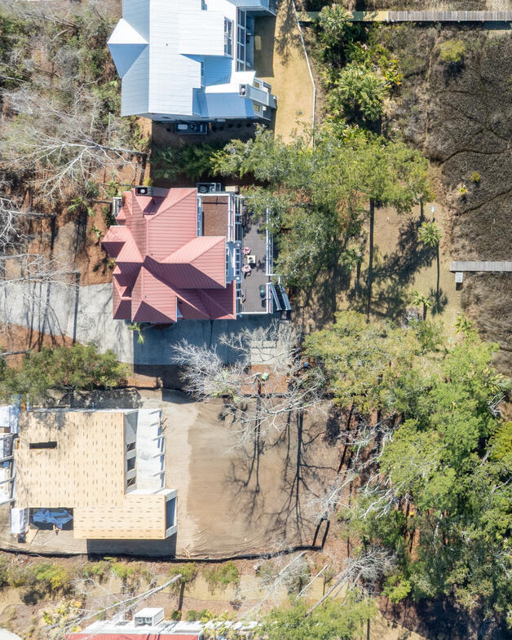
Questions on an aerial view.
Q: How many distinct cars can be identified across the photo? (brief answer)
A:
zero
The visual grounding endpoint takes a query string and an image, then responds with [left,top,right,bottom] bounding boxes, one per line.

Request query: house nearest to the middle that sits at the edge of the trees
[99,185,292,322]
